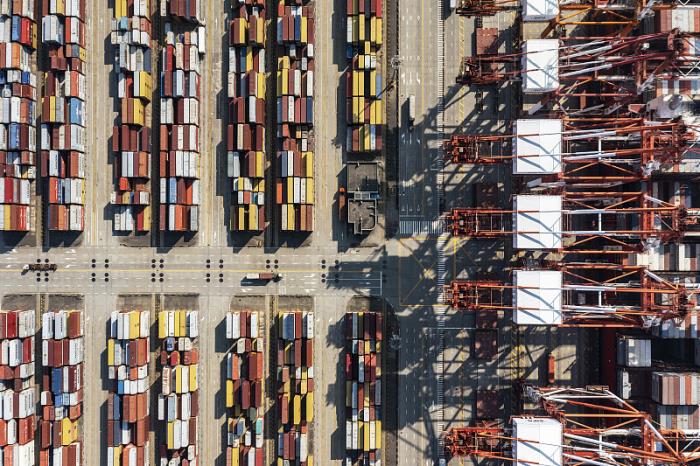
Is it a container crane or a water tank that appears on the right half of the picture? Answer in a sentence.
You can see a container crane on the right half of the picture.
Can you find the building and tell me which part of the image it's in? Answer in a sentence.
The building is located in the center region of the scene.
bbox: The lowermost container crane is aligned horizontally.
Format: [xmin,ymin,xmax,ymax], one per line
[440,366,700,466]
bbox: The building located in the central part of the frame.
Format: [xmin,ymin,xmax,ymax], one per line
[347,161,380,234]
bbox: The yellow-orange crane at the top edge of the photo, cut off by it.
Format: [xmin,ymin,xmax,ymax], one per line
[449,0,700,75]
